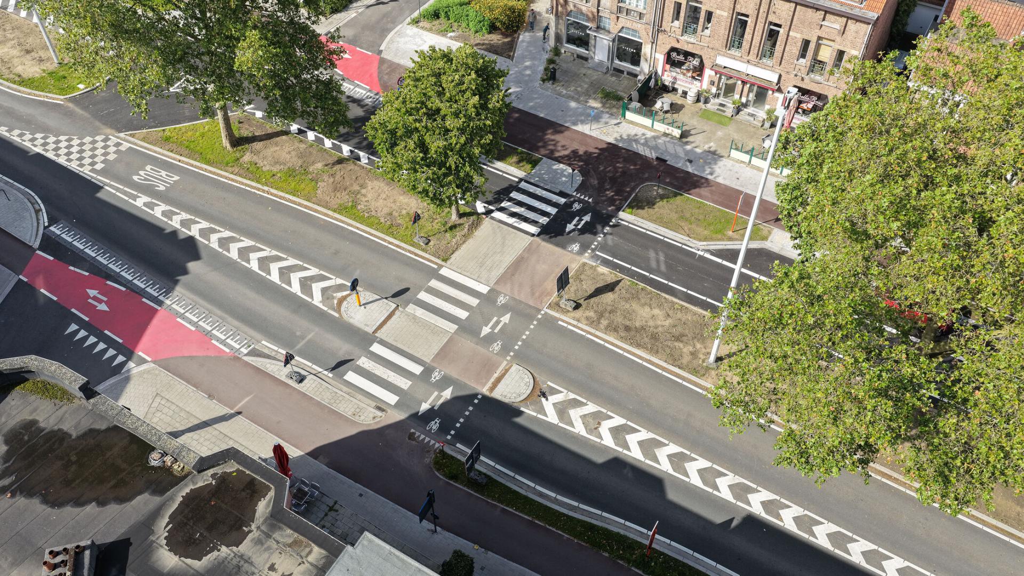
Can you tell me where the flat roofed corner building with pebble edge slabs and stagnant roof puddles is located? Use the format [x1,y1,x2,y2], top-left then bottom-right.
[0,355,343,576]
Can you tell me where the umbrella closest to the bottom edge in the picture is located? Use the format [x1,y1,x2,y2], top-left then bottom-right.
[276,438,299,482]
